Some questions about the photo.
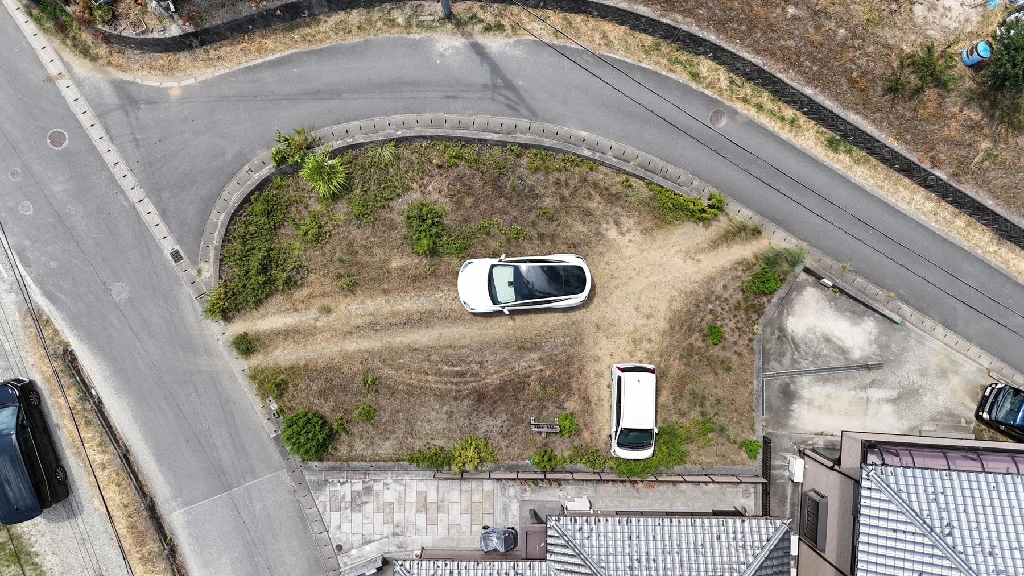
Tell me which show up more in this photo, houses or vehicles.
vehicles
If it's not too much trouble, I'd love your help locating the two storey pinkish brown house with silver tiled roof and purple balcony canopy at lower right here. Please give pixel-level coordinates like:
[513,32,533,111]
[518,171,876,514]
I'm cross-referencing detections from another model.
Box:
[797,428,1024,576]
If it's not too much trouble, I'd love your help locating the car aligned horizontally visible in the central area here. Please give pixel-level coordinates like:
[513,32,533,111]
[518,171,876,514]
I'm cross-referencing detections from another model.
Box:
[459,251,593,318]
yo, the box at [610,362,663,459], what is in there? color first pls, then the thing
white car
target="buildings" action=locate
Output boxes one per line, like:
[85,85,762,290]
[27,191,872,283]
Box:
[797,428,1024,576]
[390,497,794,576]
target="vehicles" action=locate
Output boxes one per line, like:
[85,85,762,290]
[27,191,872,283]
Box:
[610,362,663,459]
[459,251,593,318]
[0,375,67,524]
[972,387,1024,435]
